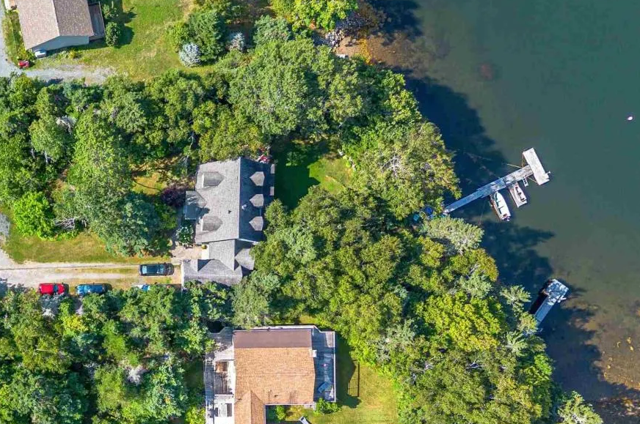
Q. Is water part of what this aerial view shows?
Yes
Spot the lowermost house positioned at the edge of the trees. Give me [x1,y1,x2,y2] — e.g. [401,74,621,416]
[203,325,335,424]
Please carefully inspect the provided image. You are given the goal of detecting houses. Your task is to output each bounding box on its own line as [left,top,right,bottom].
[203,325,335,424]
[180,152,275,298]
[2,0,108,52]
